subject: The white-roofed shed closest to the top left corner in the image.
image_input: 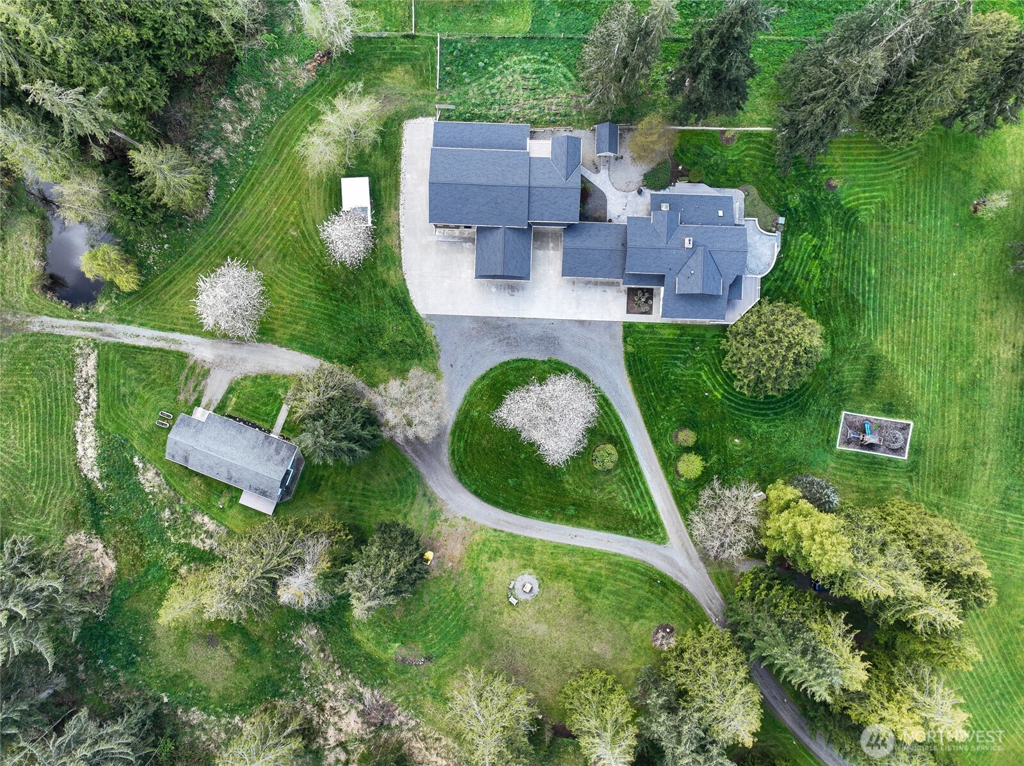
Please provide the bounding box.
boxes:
[341,177,374,228]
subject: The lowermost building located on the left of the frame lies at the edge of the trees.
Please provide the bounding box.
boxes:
[166,407,306,515]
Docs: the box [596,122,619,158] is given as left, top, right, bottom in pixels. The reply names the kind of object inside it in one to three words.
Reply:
shed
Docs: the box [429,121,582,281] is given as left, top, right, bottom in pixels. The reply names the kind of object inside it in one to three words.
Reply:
building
